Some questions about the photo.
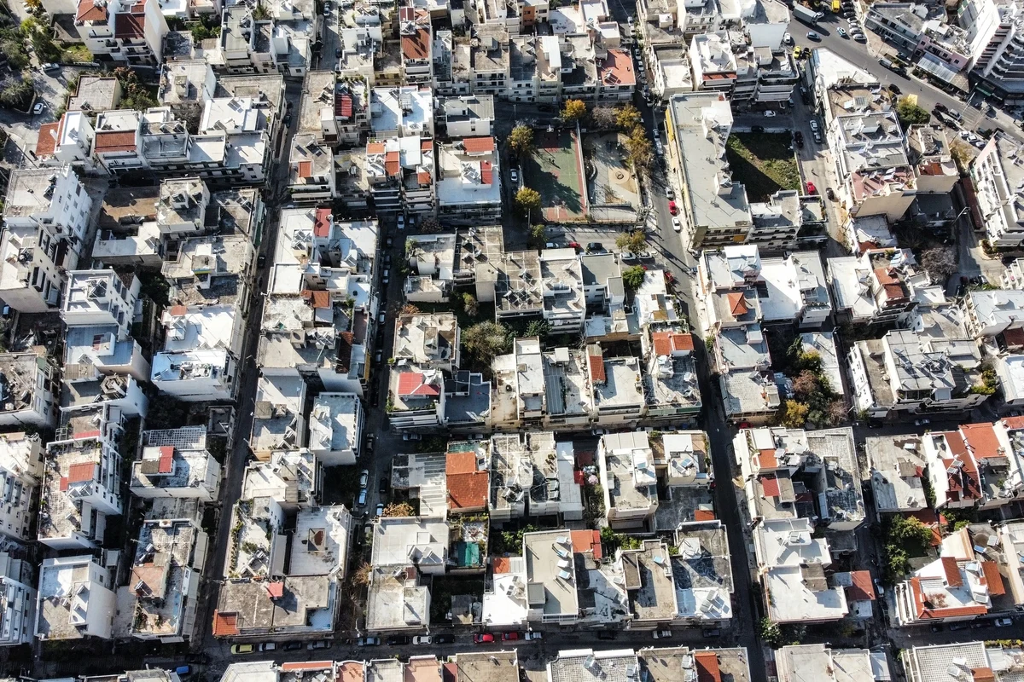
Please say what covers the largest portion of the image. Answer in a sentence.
For the most part, this view shows buildings.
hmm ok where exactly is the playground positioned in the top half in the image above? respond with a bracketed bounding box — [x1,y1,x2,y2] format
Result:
[591,129,654,219]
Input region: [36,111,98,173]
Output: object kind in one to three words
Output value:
building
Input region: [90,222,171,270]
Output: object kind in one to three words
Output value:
house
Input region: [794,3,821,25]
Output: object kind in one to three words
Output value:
truck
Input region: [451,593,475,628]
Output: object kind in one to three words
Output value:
shed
